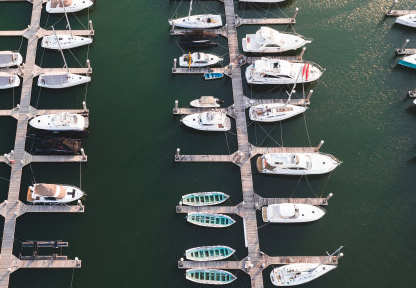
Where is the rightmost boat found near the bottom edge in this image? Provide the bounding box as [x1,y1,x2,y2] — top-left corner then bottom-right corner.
[267,248,353,284]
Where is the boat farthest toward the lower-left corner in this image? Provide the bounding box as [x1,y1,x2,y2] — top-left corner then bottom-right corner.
[28,186,85,207]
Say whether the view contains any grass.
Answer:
No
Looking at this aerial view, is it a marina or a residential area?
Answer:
marina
